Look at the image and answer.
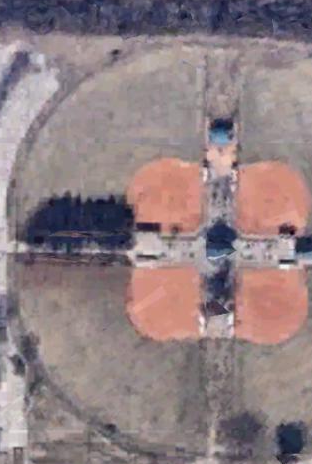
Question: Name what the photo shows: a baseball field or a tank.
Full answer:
It is a baseball field that can be seen here.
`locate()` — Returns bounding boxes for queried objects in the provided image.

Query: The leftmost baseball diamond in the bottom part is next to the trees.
[13,265,206,456]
